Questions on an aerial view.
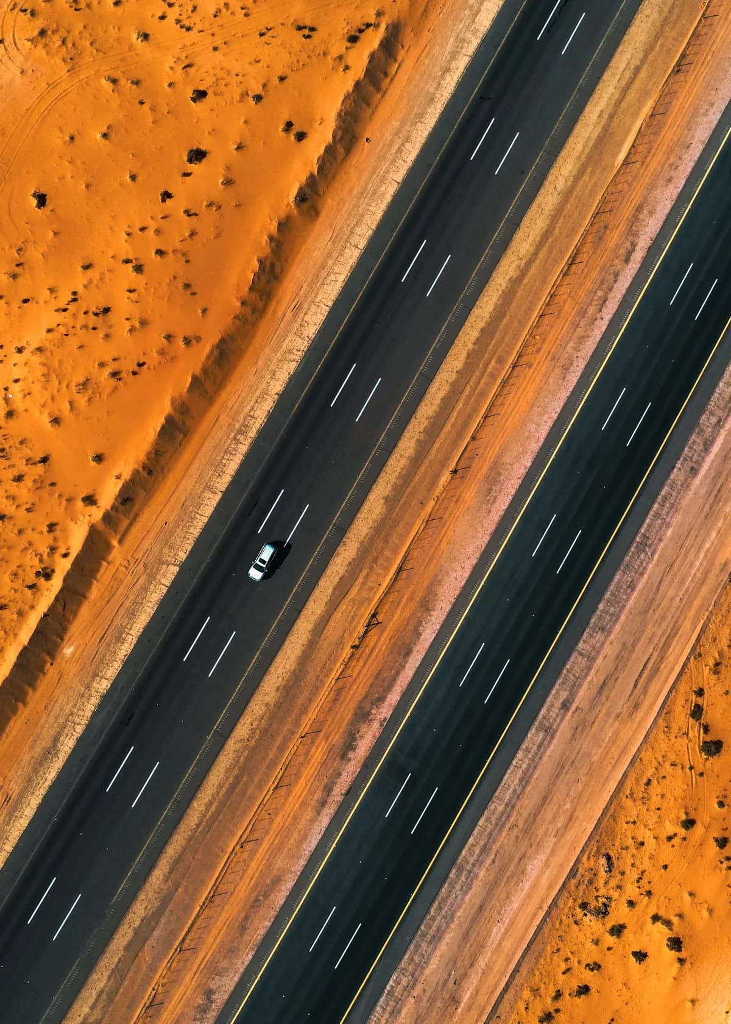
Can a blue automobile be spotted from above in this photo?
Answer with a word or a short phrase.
No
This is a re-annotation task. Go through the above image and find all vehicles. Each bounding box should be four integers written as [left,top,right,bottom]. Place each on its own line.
[246,541,276,581]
